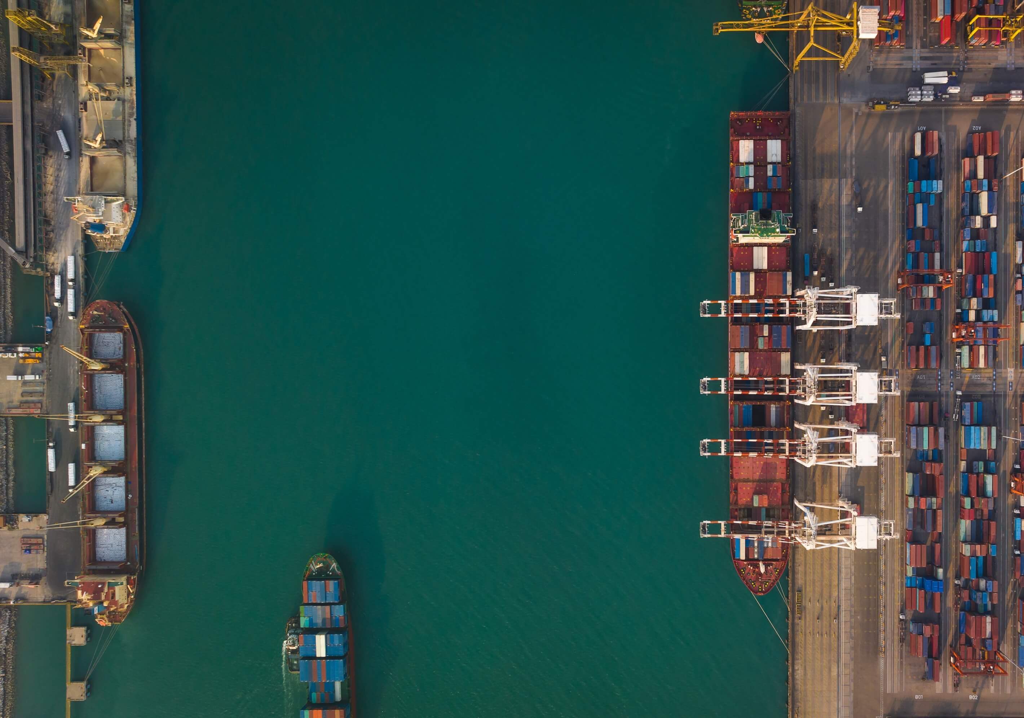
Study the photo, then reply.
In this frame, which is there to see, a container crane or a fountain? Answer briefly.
container crane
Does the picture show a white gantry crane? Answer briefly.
Yes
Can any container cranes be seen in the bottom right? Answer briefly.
Yes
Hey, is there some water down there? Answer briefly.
Yes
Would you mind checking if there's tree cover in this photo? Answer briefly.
No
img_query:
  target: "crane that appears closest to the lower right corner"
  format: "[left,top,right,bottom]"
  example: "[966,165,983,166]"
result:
[952,647,1012,679]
